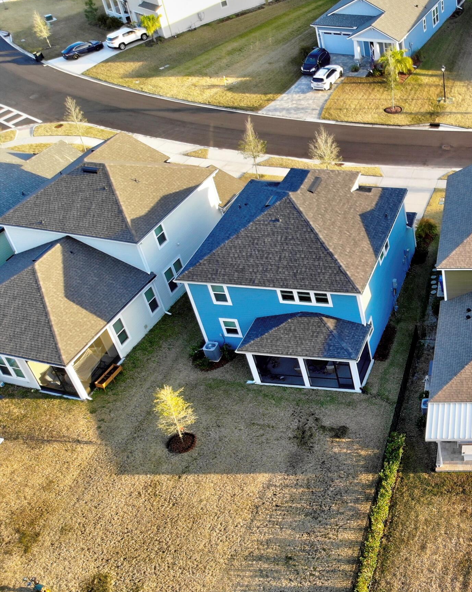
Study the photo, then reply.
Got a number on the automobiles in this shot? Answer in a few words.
4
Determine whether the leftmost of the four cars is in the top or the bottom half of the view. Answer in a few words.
top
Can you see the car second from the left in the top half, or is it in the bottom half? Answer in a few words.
top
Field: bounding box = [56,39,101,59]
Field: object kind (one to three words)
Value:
car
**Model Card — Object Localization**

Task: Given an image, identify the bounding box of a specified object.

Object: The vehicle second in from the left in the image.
[101,26,147,50]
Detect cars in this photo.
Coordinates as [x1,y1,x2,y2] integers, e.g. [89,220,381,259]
[101,26,147,50]
[56,39,101,59]
[310,66,341,89]
[302,43,326,69]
